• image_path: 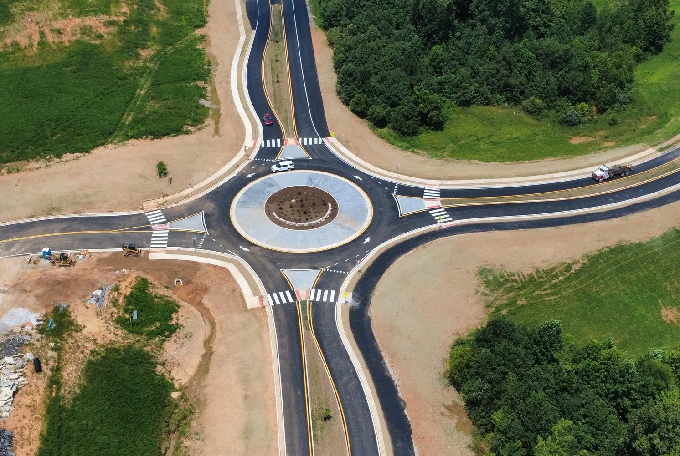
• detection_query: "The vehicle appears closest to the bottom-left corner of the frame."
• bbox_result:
[46,250,78,268]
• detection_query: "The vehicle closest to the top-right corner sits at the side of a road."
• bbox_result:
[590,161,637,181]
